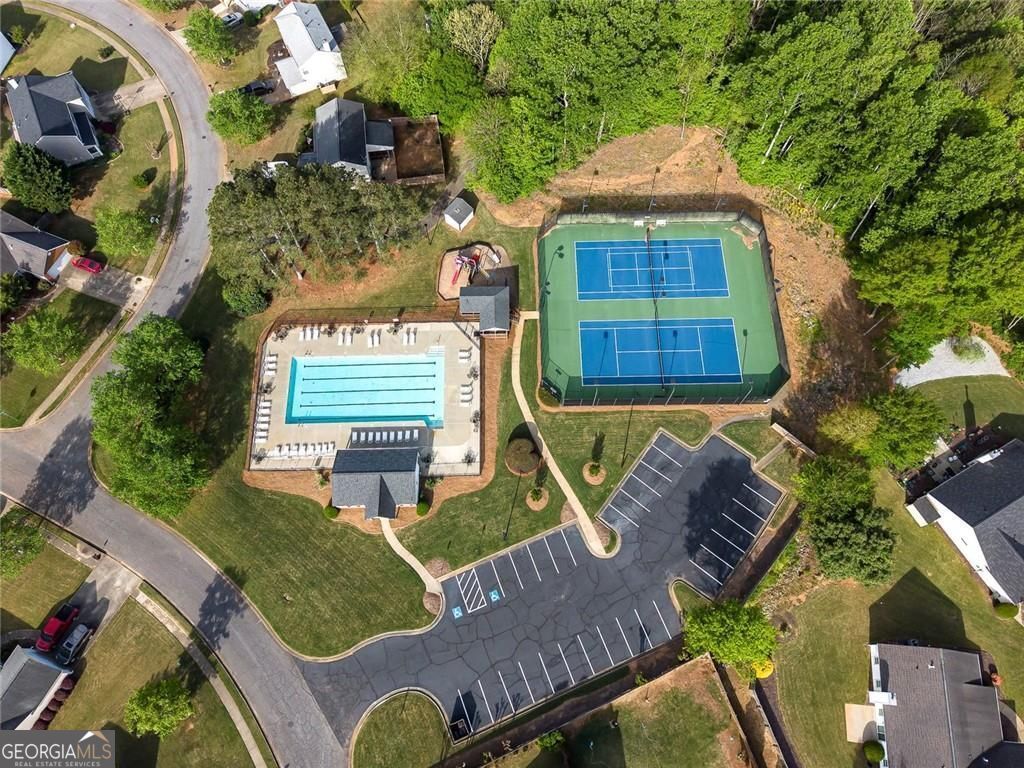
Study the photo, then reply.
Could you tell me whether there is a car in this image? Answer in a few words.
Yes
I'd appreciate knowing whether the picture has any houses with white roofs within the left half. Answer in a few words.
Yes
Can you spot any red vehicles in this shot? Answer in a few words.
Yes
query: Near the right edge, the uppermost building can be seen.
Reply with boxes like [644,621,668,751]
[906,440,1024,609]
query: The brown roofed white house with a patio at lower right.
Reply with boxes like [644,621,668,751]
[864,645,1024,768]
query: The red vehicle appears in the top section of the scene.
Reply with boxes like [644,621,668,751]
[72,256,102,275]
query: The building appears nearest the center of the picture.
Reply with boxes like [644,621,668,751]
[460,287,509,337]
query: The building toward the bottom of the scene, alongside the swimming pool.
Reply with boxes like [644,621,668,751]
[331,447,419,519]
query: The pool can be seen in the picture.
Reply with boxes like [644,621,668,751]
[285,343,447,431]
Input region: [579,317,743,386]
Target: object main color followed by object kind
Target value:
blue tennis court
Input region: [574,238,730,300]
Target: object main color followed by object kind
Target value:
blue tennis court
